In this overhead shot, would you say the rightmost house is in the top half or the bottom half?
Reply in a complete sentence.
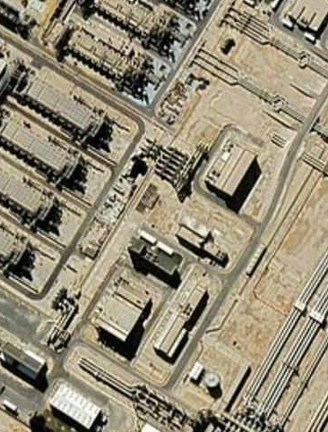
Seen from above, the rightmost house lies in the top half of the view.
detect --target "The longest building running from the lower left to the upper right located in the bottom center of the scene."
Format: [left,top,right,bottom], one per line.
[153,280,209,356]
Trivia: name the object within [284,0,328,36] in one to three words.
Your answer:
house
